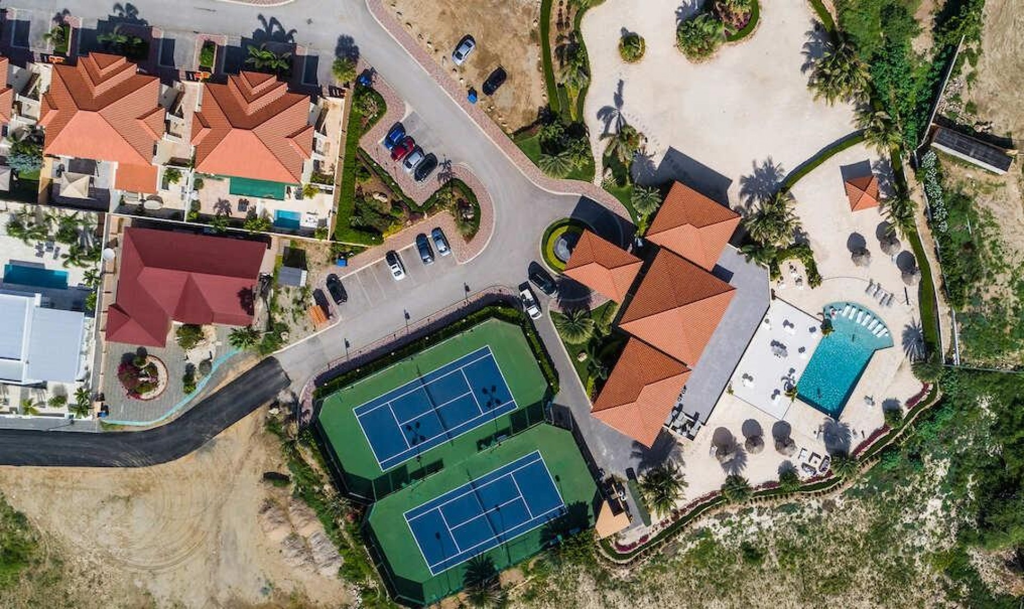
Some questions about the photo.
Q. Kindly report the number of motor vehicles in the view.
12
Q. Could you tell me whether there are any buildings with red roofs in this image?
Yes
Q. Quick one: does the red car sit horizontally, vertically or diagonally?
diagonally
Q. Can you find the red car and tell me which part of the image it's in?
top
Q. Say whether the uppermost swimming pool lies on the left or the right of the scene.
left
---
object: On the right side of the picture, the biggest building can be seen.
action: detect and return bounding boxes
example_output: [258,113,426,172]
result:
[563,181,772,448]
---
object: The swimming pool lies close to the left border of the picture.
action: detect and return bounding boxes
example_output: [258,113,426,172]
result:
[0,263,69,291]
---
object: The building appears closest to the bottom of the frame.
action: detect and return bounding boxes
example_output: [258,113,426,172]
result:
[595,480,630,538]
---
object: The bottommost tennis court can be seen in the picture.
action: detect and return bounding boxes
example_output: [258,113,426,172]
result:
[367,423,599,606]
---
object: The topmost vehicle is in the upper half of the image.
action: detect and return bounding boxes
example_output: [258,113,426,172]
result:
[452,37,475,66]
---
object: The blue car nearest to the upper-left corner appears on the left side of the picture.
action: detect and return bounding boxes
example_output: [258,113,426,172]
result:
[382,126,406,150]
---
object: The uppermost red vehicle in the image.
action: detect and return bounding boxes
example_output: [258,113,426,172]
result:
[389,137,417,164]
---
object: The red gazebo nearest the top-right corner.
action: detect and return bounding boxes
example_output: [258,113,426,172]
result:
[845,175,880,211]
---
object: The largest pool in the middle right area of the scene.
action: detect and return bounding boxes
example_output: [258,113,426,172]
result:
[796,299,896,421]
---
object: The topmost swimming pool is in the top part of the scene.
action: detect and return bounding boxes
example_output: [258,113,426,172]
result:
[272,208,303,231]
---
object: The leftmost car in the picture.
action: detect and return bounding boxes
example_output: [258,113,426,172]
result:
[326,275,350,306]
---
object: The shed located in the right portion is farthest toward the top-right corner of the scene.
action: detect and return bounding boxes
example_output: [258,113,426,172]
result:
[924,126,1017,175]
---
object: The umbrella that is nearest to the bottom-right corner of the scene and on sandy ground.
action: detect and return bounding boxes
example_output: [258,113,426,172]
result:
[776,437,795,456]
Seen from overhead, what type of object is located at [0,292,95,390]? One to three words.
house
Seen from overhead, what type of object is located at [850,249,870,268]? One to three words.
umbrella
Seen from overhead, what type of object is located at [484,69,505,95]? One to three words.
car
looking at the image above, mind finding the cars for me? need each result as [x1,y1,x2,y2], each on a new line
[382,126,406,150]
[484,69,505,95]
[530,267,558,297]
[412,155,440,184]
[400,147,427,174]
[452,37,475,66]
[389,137,417,164]
[326,275,350,306]
[386,251,407,281]
[415,235,436,265]
[431,228,452,258]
